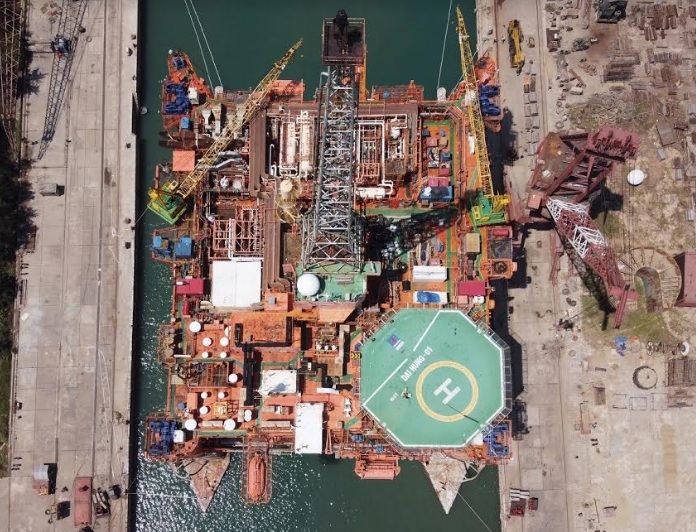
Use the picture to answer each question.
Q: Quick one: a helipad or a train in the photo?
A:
helipad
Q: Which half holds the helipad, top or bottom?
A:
bottom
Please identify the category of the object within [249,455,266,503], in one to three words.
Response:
boat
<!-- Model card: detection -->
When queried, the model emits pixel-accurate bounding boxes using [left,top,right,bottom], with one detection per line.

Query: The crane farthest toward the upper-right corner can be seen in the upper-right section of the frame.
[504,16,525,74]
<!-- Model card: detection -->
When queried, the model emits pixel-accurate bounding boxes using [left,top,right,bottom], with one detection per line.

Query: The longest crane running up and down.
[453,5,515,231]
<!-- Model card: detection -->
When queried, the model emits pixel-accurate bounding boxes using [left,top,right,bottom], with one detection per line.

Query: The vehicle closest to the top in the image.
[597,1,625,24]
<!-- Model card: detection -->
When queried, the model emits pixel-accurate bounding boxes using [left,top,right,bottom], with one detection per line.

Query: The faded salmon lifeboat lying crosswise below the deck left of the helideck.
[357,464,401,480]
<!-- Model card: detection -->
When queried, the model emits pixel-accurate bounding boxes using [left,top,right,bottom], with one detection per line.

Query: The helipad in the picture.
[350,304,513,454]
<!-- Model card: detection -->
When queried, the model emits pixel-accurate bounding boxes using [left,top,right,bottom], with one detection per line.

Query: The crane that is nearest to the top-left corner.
[143,37,306,229]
